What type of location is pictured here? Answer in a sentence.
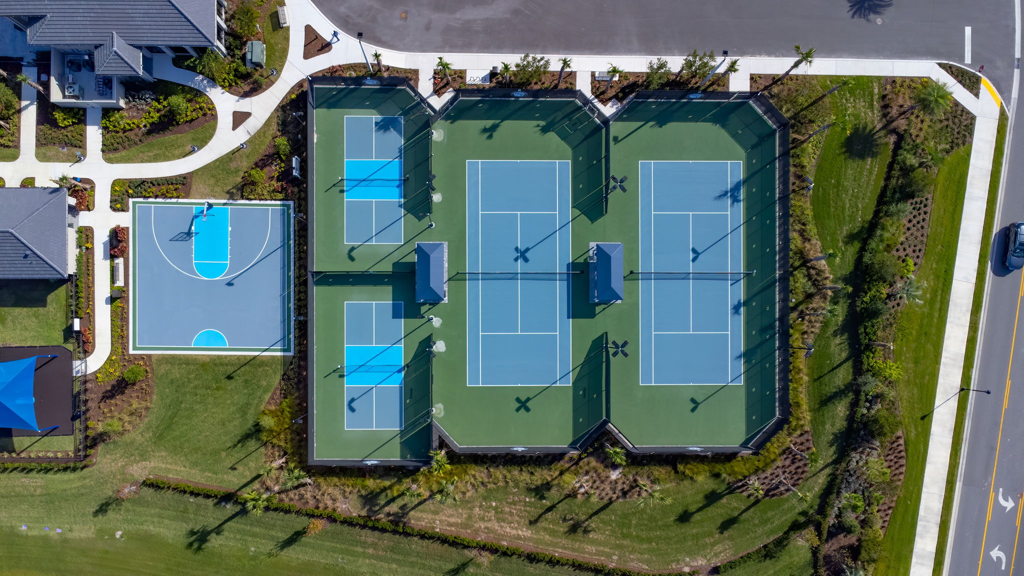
The picture captures a sports ground.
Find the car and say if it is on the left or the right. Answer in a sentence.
The car appears in the right half of the scene.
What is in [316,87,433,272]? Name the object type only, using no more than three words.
sports court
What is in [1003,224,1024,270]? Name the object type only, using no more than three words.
car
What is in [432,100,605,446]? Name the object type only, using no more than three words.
tennis court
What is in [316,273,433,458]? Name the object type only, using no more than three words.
sports court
